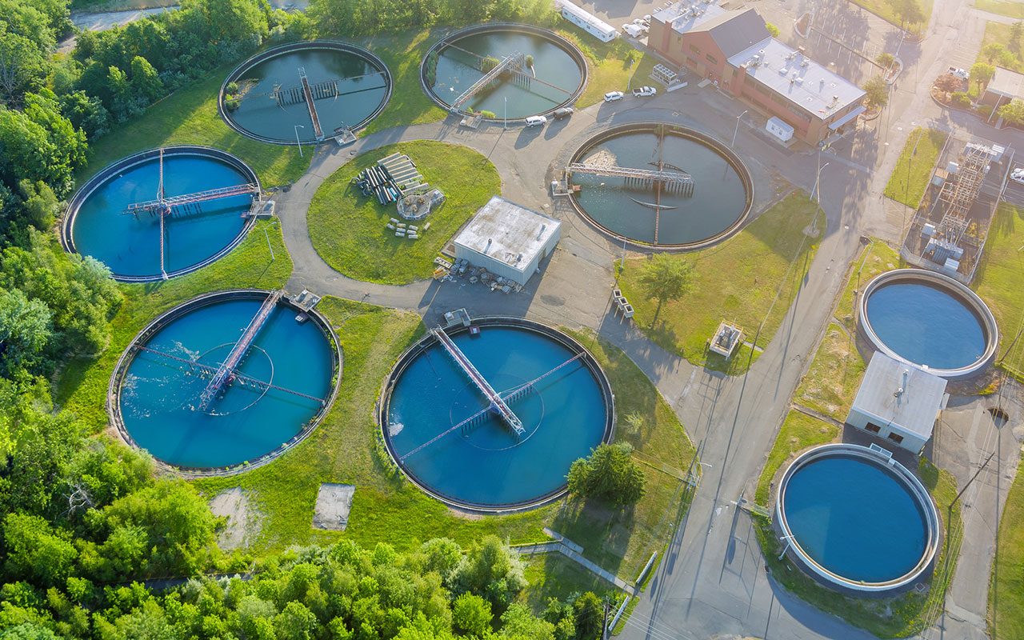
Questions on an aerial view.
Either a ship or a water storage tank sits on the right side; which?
water storage tank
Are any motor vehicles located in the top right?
Yes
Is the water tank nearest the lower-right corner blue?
Yes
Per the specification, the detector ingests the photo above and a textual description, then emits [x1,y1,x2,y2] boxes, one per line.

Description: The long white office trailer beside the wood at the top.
[562,0,620,44]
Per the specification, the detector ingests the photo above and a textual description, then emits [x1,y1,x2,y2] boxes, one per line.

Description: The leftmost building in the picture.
[453,194,562,287]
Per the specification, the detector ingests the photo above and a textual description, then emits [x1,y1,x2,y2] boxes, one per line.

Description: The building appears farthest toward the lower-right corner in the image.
[844,349,950,455]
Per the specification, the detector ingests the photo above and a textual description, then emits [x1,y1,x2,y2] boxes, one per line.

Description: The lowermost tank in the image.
[772,439,942,596]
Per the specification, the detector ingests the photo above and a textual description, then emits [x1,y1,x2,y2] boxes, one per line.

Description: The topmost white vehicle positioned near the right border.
[947,64,973,81]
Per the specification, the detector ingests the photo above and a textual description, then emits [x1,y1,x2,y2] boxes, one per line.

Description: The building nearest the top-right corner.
[978,69,1024,133]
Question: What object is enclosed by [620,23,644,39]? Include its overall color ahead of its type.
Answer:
white vehicle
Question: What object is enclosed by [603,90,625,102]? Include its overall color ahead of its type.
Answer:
white vehicle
